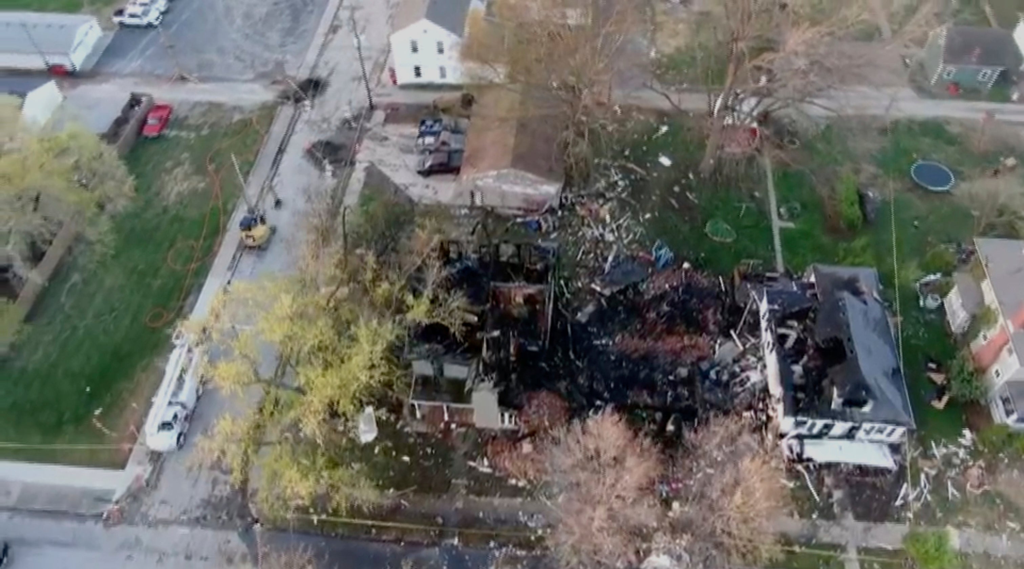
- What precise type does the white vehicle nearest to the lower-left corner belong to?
truck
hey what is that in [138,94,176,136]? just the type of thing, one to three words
truck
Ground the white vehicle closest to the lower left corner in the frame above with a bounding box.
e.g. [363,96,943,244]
[140,315,208,447]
